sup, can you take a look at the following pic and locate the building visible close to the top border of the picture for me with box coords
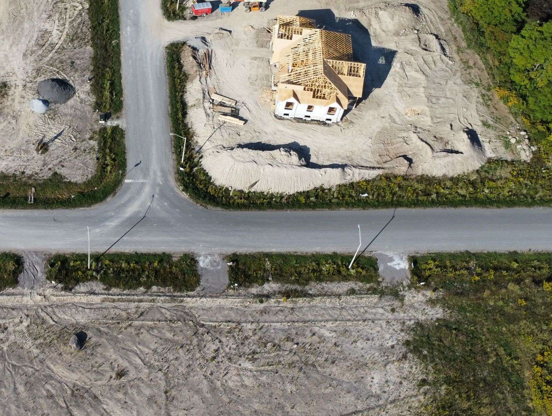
[269,16,368,122]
